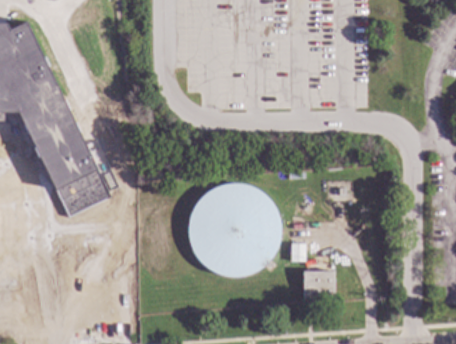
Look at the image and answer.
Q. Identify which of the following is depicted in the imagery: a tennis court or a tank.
tank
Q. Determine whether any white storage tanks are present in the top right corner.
No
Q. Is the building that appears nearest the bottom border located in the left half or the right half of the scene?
right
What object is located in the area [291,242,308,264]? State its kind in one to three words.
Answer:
shed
